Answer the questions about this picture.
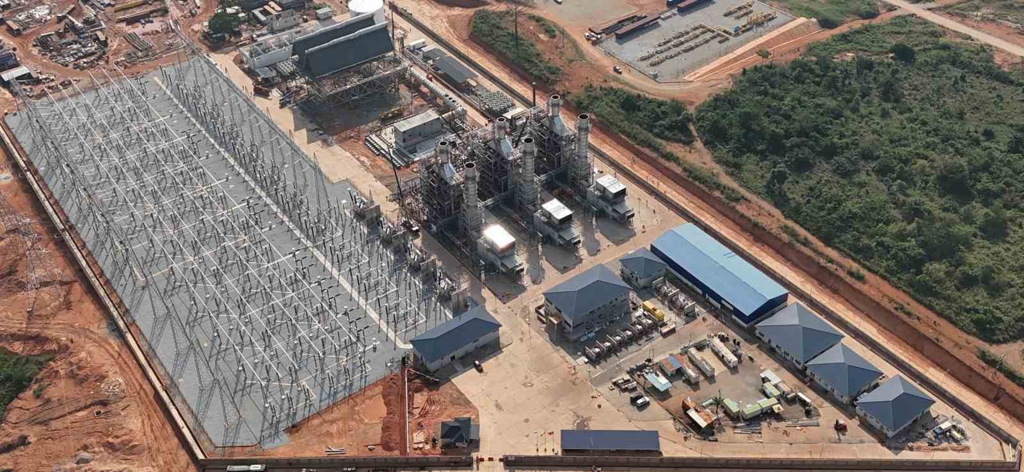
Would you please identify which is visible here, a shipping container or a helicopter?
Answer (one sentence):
Looking from above, you can make out a shipping container.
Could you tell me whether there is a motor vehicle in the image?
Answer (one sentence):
Yes, the frame does contain a motor vehicle.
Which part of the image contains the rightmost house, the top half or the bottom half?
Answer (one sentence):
The rightmost house is in the bottom half of the image.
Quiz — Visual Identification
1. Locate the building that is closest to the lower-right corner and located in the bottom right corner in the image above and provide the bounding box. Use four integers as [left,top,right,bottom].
[853,373,933,440]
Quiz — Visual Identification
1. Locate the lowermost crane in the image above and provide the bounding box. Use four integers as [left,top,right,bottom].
[386,146,419,237]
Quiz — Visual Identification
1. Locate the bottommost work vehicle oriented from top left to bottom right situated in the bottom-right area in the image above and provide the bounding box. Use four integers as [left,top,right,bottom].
[831,411,848,432]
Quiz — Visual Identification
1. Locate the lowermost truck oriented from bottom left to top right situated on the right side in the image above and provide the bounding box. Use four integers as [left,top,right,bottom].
[934,415,960,438]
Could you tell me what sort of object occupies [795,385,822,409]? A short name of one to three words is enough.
truck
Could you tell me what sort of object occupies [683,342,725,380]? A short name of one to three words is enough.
trailer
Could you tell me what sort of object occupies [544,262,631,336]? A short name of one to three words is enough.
building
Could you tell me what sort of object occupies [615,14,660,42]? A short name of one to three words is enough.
shed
